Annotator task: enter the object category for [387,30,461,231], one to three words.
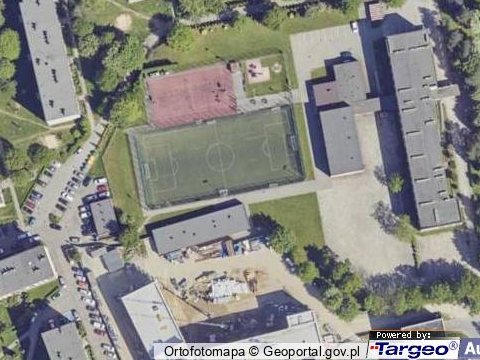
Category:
building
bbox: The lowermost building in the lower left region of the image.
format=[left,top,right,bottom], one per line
[41,323,88,360]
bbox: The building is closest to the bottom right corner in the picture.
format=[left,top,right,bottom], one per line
[402,318,447,353]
